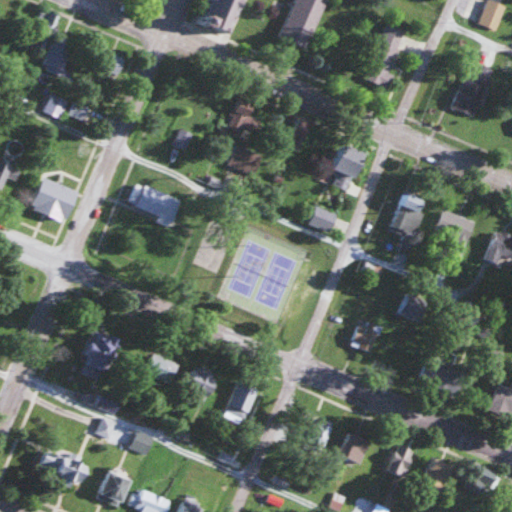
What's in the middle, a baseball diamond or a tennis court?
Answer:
tennis court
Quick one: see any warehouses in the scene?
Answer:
No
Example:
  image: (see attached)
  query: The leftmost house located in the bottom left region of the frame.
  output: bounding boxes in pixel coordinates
[46,447,92,488]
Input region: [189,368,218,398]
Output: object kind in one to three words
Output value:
house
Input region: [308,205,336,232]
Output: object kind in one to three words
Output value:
building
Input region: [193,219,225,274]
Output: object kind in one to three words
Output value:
sports court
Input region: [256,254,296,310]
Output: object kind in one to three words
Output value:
tennis court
